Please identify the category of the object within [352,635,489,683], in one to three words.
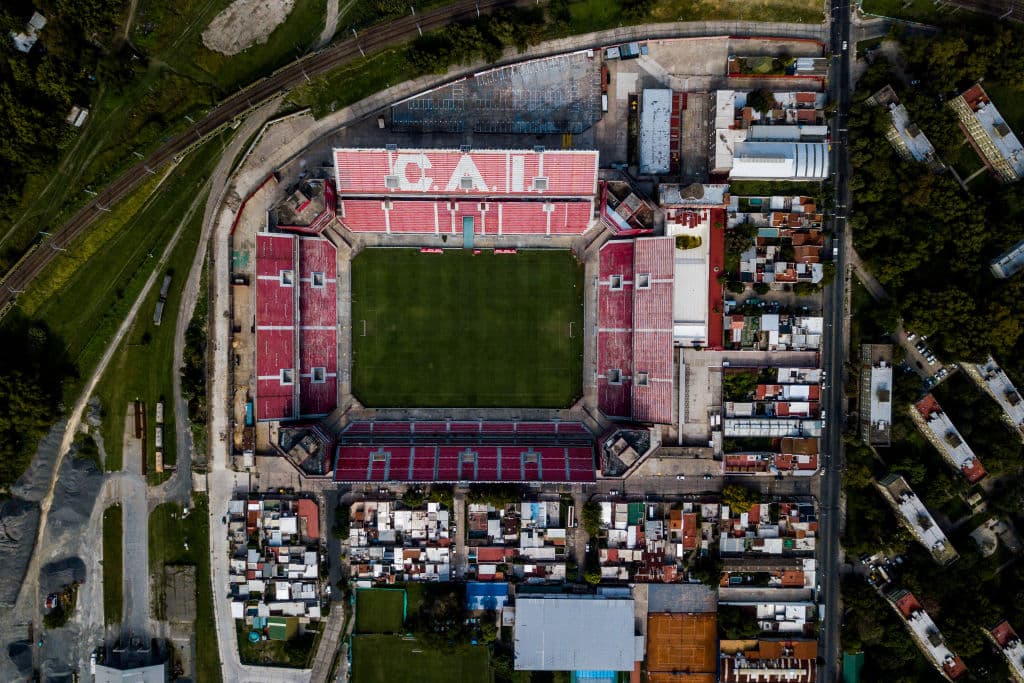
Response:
sports field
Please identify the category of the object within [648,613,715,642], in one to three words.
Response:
tennis court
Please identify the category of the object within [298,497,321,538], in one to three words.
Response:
house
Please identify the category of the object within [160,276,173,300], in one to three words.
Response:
rail car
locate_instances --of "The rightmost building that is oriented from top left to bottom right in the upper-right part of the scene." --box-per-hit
[954,83,1024,180]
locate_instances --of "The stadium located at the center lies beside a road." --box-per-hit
[255,144,674,486]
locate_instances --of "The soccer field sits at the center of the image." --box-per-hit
[352,247,583,408]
